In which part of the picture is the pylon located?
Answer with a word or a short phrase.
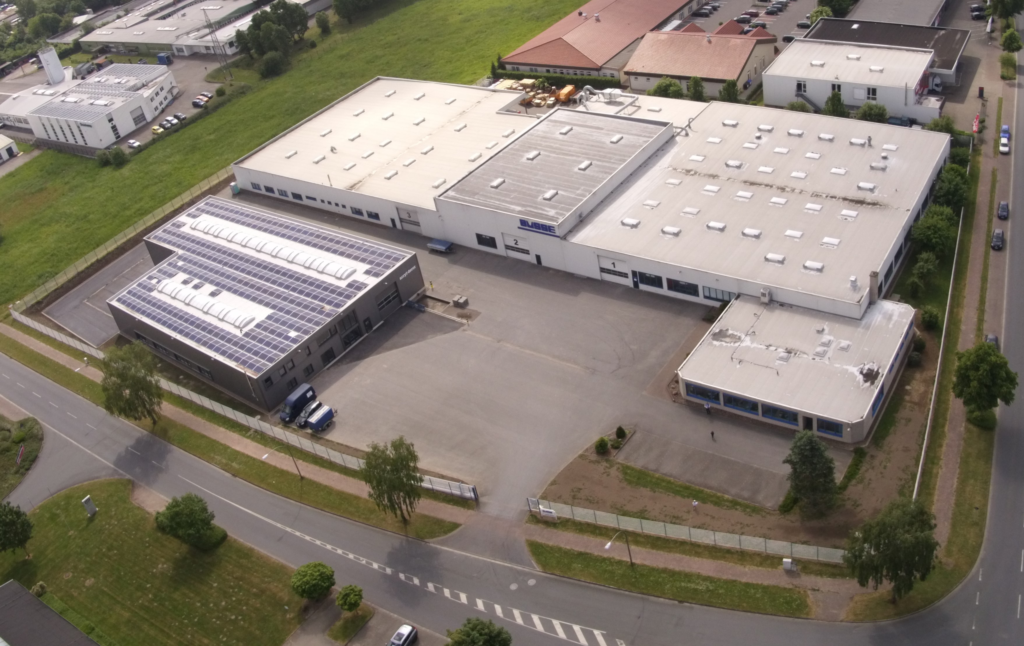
top left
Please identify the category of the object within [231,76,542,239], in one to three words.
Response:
building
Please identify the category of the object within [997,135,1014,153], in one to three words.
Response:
car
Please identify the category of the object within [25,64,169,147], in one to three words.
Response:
building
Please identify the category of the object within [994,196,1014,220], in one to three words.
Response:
car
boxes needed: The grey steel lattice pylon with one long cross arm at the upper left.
[179,0,242,84]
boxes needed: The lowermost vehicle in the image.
[383,615,425,646]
